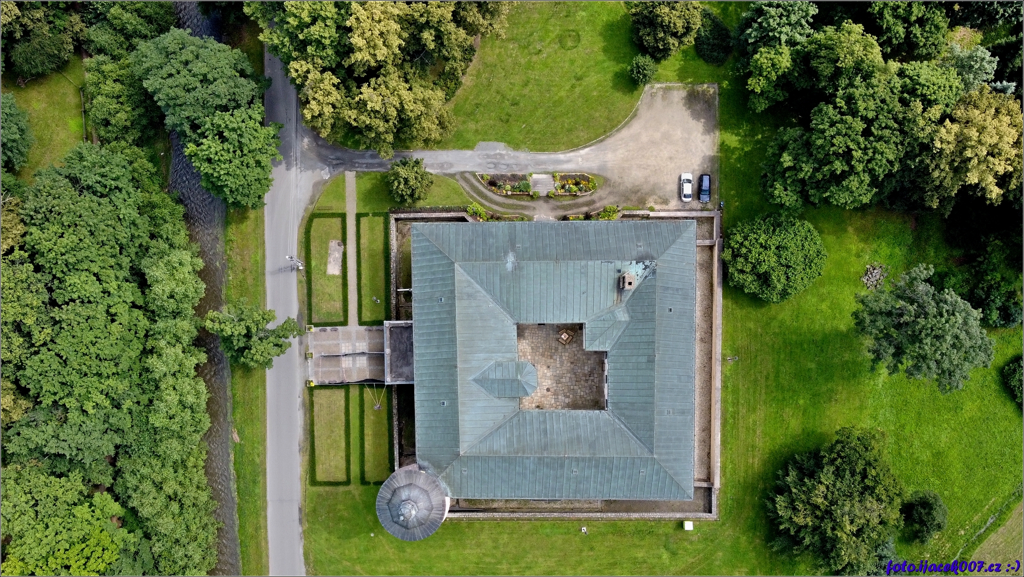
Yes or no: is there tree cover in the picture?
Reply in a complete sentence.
Yes, there is tree cover in the image.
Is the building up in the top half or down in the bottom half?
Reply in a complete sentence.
The building sits in the bottom half of the picture.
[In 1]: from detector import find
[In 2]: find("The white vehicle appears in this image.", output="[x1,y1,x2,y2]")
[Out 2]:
[681,171,695,202]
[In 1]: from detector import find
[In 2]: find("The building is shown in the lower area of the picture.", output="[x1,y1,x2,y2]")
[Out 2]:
[376,220,696,540]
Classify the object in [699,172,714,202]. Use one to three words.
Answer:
car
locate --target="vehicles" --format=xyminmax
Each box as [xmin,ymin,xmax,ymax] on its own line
[699,172,714,202]
[681,171,695,202]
